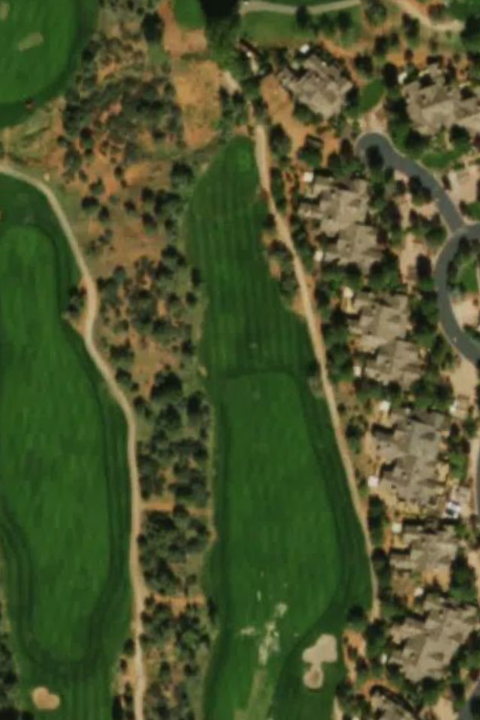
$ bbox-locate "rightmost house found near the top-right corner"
[399,60,480,136]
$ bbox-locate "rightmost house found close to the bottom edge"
[397,596,480,687]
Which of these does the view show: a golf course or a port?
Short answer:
golf course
